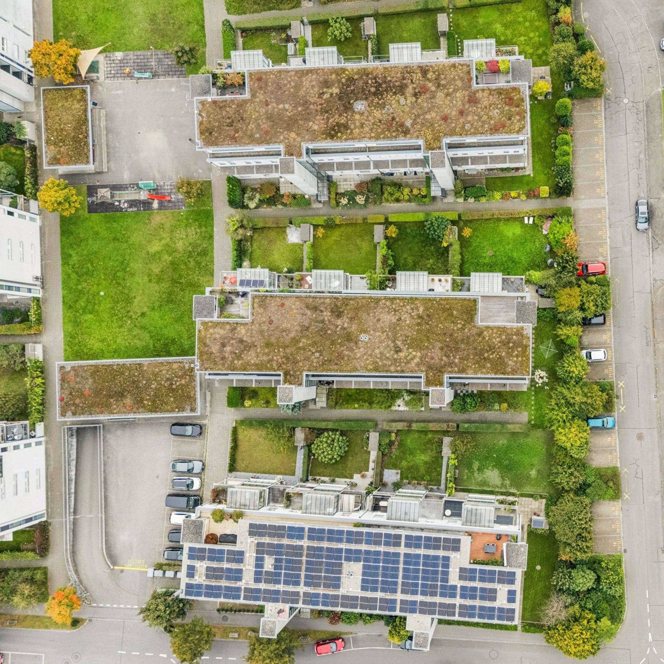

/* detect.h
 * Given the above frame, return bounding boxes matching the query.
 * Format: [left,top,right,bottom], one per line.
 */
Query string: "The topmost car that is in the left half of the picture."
[170,423,203,437]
